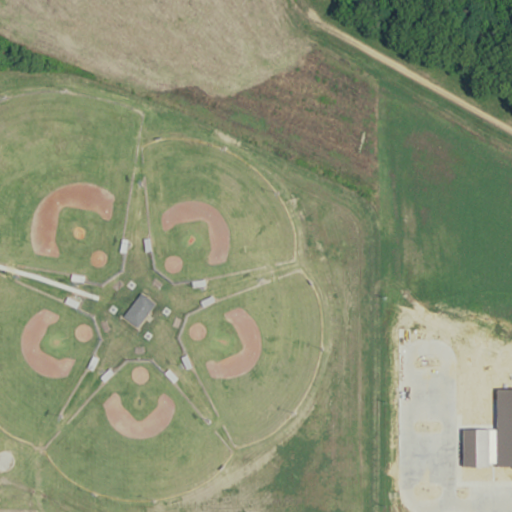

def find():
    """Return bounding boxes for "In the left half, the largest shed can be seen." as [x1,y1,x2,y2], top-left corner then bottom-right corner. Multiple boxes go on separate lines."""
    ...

[123,292,156,328]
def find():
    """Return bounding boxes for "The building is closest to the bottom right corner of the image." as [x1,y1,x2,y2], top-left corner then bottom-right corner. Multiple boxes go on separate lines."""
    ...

[464,389,512,468]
